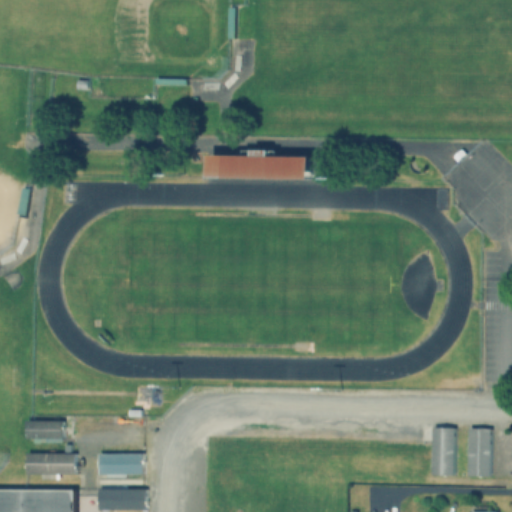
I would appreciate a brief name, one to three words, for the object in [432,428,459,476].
building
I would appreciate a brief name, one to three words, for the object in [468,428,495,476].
building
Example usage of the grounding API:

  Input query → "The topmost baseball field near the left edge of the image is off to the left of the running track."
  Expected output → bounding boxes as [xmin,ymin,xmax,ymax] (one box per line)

[0,174,25,264]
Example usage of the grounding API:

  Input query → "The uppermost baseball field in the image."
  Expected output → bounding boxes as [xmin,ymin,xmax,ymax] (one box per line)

[114,0,234,76]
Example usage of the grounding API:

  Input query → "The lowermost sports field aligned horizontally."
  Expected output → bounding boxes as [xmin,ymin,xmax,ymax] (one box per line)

[62,207,450,358]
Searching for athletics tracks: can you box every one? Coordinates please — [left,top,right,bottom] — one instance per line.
[37,182,474,383]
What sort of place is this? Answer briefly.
sports ground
